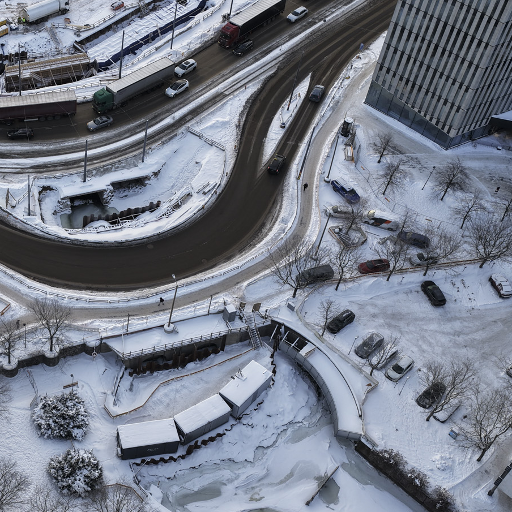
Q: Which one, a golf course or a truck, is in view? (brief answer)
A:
truck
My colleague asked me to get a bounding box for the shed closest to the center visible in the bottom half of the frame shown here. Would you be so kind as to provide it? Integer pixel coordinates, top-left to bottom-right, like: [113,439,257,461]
[219,359,273,419]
